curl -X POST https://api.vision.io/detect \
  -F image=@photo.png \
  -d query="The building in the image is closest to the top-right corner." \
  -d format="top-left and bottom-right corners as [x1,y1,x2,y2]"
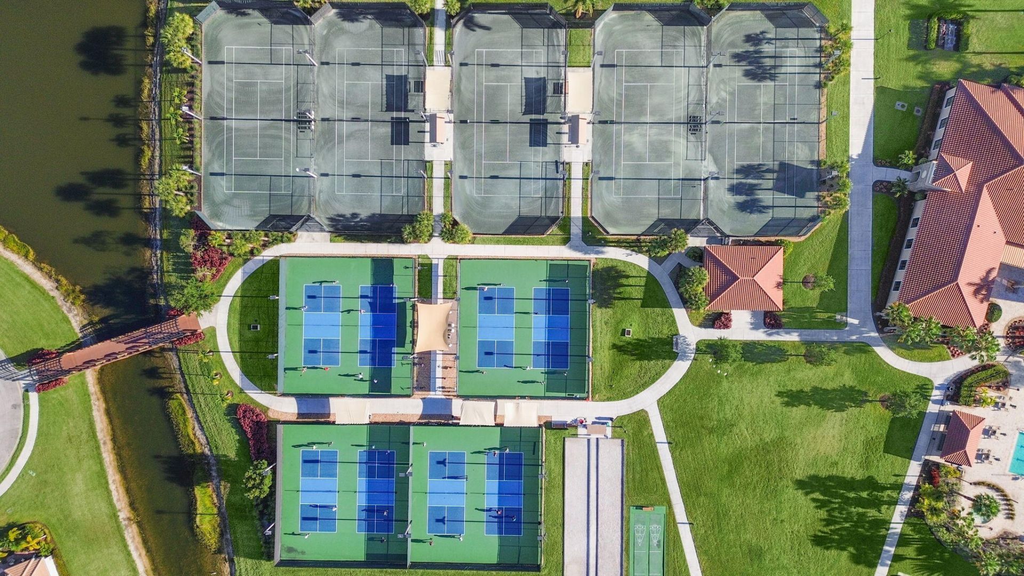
[889,79,1024,328]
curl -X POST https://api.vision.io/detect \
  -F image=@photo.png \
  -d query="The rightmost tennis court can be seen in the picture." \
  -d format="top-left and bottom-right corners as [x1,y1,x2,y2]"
[705,11,822,234]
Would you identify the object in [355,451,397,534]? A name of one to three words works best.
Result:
sports court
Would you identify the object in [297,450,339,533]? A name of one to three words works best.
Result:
sports court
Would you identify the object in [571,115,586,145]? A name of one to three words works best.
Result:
shed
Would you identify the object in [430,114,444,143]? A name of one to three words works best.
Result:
shed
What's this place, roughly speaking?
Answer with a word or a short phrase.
sports ground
